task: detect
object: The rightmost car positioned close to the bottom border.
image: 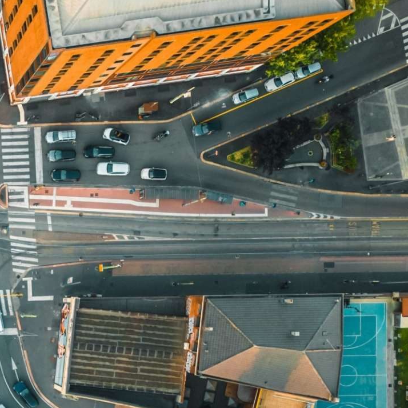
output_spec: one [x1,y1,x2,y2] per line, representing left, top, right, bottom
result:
[14,377,37,408]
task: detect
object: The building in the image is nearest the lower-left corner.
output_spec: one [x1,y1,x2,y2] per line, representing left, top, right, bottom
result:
[51,294,188,408]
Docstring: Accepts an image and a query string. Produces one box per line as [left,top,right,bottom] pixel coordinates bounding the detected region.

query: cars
[82,145,116,160]
[95,161,130,176]
[101,127,132,146]
[192,121,223,137]
[44,129,77,145]
[262,74,297,92]
[139,167,167,181]
[49,167,80,182]
[294,61,323,80]
[46,148,76,162]
[229,88,259,105]
[14,377,37,408]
